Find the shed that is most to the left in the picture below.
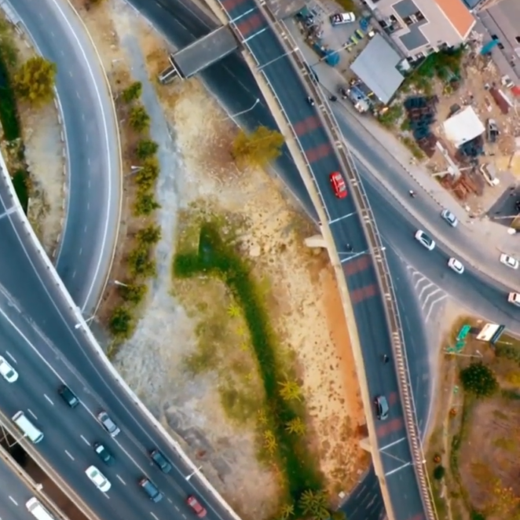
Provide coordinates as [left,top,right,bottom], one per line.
[336,35,406,110]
